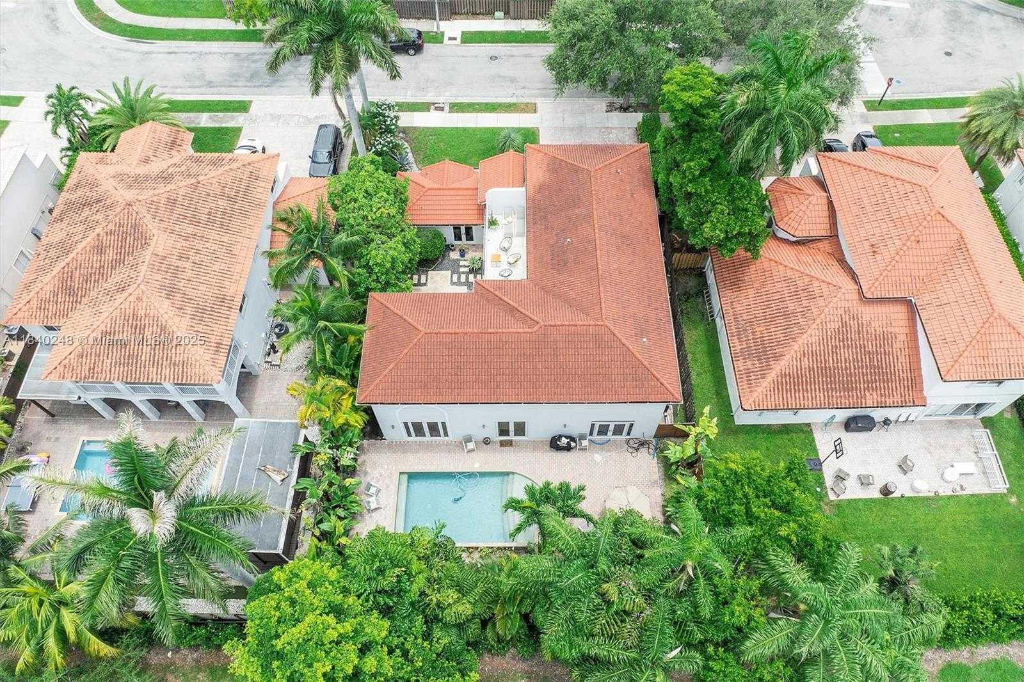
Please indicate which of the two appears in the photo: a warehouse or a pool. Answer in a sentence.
Looking from above, you can make out a pool.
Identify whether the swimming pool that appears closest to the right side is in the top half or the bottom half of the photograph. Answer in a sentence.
You can find the swimming pool that appears closest to the right side in the bottom half.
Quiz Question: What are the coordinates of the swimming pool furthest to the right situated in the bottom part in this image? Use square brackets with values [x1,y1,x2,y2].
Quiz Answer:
[392,469,546,547]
